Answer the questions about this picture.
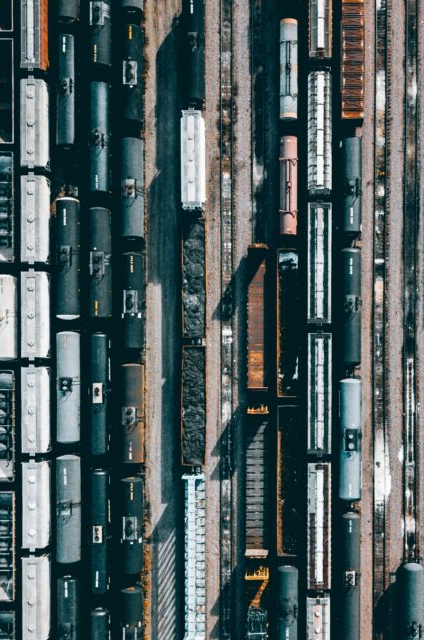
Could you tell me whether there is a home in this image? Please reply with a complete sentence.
No, no home can be seen from above.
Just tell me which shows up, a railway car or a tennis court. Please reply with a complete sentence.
It is a railway car that can be seen here.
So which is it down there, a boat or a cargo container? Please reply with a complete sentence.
Visible in the photo is a boat.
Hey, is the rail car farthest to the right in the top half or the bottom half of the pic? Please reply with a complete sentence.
Seen from above, the rail car farthest to the right lies in the bottom half of the view.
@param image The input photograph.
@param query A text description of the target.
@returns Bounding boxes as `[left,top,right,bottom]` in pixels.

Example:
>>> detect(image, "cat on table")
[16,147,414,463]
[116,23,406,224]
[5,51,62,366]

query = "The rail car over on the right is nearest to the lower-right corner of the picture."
[396,547,423,640]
